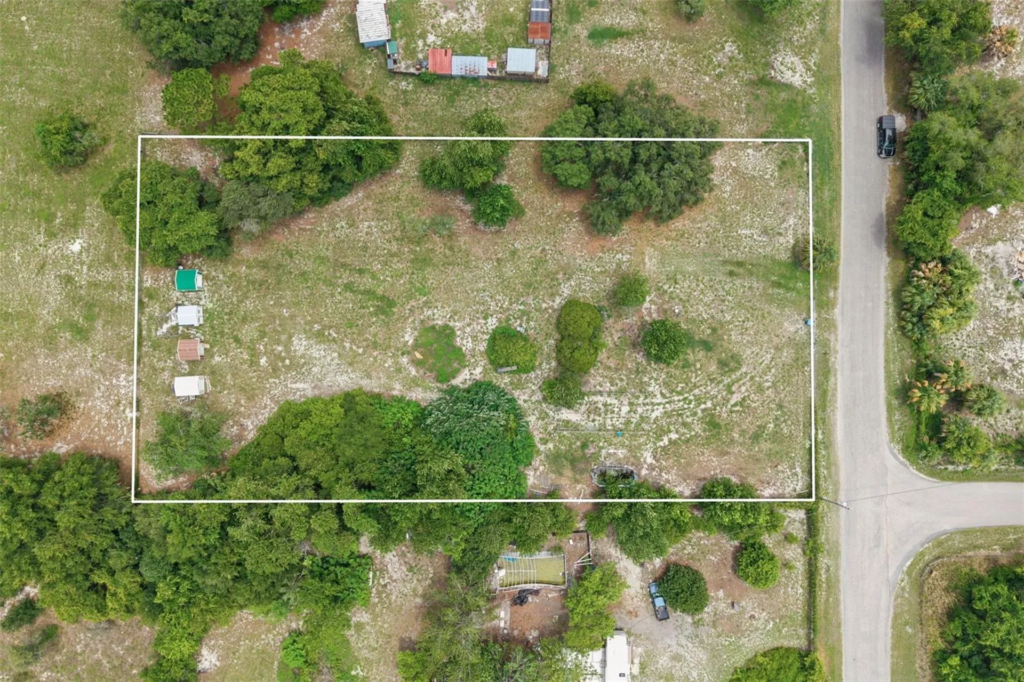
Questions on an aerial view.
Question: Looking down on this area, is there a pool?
Yes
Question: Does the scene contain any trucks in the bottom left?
No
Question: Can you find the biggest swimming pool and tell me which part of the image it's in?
bottom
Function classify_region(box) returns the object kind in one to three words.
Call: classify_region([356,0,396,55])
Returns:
shed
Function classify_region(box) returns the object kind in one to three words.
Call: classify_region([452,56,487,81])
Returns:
shed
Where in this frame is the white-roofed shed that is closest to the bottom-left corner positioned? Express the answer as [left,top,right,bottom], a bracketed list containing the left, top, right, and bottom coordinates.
[174,376,211,397]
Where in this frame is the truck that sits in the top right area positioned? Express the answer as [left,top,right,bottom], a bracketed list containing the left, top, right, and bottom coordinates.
[875,115,897,159]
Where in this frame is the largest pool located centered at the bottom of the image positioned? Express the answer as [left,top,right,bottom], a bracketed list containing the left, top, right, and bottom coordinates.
[497,551,567,589]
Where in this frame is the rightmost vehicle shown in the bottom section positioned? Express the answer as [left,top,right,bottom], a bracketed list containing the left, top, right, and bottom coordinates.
[645,579,674,623]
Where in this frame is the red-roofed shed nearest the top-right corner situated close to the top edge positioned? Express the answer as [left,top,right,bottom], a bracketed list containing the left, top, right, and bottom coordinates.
[529,22,552,45]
